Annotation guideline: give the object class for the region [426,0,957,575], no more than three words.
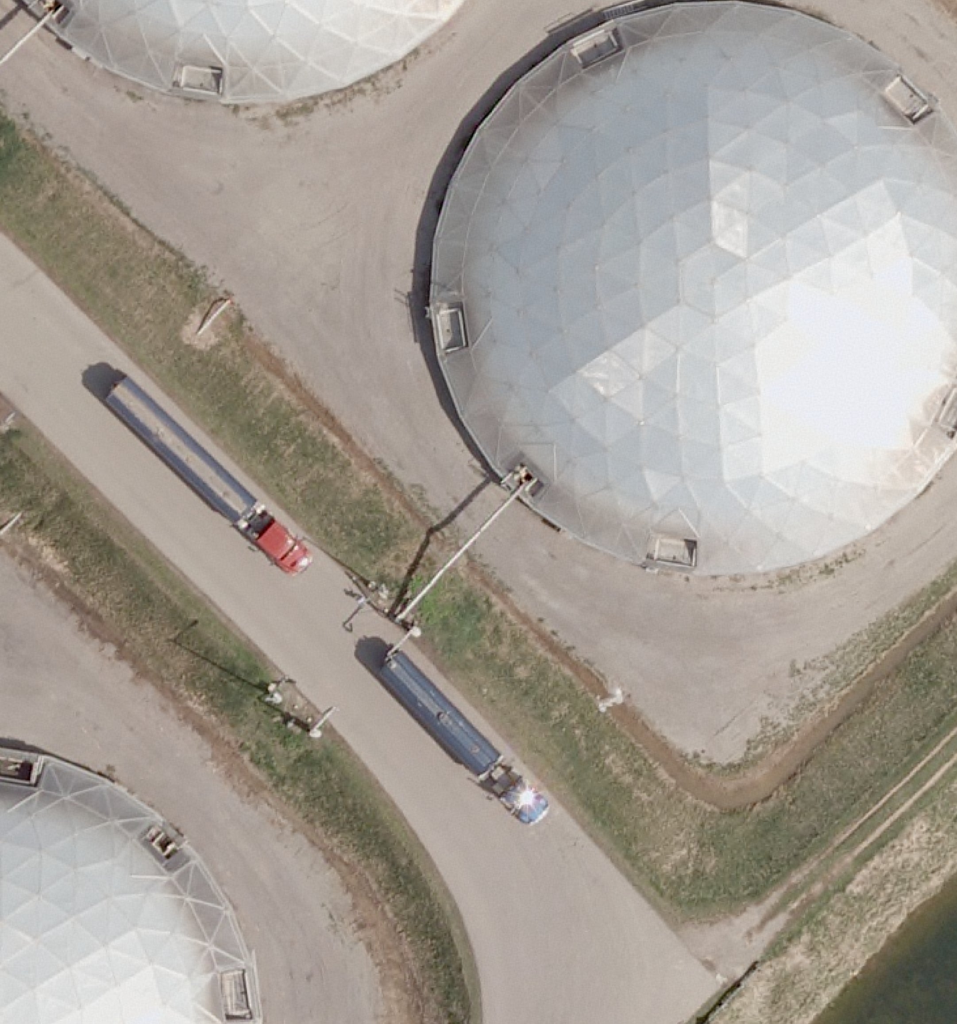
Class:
storage tank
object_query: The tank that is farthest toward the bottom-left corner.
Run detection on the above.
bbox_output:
[0,745,266,1024]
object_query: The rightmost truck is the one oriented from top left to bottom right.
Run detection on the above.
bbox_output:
[381,650,548,825]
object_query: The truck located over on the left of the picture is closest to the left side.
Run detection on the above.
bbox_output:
[108,378,312,577]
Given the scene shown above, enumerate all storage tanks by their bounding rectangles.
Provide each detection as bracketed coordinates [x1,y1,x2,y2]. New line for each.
[426,0,957,575]
[35,0,472,102]
[0,745,266,1024]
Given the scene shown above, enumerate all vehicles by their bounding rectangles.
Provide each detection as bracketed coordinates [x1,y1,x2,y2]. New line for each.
[108,378,312,577]
[381,650,548,825]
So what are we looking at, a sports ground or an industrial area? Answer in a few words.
industrial area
